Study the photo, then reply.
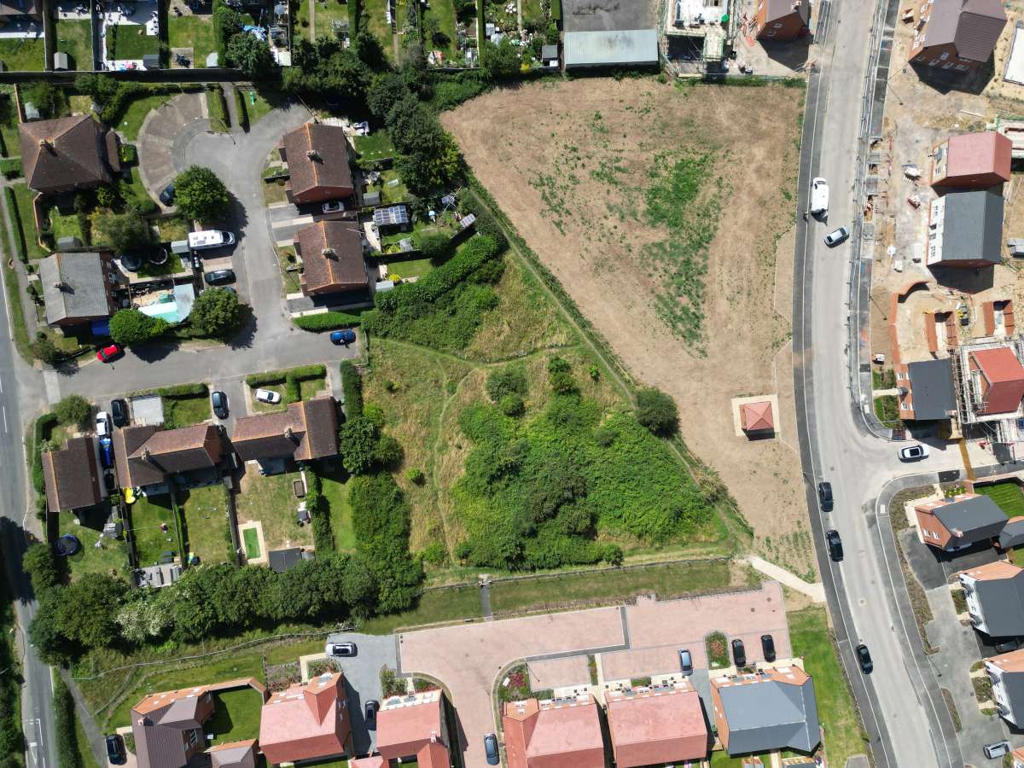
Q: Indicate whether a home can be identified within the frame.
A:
Yes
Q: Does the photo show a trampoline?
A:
Yes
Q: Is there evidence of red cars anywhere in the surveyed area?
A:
Yes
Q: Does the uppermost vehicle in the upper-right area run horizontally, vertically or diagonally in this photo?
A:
vertically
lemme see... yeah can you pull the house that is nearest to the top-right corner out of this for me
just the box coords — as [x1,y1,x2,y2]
[906,0,1009,77]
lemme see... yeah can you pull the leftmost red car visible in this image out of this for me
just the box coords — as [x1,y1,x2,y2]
[96,344,124,362]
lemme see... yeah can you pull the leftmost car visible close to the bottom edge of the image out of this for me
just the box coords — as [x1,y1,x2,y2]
[107,732,126,764]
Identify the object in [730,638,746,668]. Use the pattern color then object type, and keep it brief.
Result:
black car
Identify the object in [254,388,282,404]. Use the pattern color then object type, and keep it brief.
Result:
white car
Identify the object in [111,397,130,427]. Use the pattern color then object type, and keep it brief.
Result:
black car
